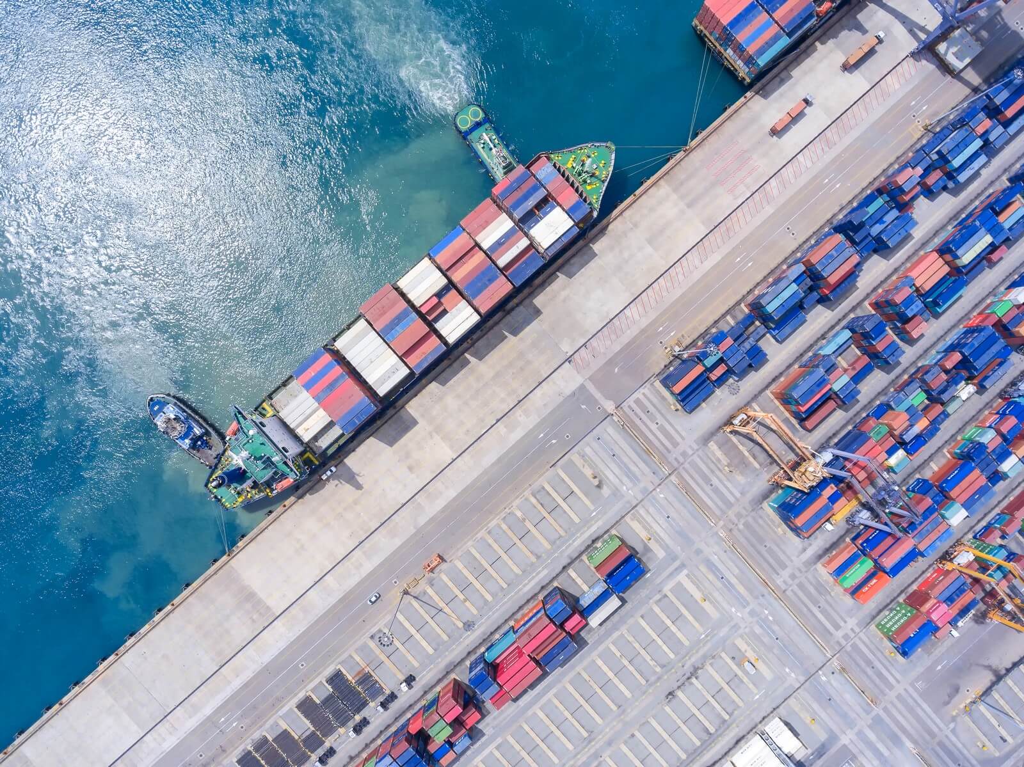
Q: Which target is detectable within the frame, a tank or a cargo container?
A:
cargo container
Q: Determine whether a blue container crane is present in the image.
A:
Yes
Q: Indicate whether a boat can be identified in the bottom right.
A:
No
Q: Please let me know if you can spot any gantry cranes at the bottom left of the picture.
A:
No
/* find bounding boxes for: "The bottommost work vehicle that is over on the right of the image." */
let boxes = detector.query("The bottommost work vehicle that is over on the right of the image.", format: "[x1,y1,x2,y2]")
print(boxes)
[740,658,757,676]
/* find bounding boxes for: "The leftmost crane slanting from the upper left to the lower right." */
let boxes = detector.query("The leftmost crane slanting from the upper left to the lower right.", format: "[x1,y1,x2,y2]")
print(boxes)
[720,398,830,496]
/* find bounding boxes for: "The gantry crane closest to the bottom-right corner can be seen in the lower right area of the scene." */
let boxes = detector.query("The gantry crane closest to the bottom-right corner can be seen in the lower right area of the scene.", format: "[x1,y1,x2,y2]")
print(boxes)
[939,534,1024,630]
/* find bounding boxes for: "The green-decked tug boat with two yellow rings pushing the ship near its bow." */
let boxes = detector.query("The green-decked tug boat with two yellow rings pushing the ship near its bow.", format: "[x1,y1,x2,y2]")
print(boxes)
[453,102,520,183]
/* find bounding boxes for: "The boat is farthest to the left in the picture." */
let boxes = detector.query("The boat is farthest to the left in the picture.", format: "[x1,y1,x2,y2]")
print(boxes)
[145,391,227,468]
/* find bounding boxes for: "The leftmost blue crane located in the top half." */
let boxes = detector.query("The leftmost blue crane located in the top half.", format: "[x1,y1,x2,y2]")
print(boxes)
[906,0,992,60]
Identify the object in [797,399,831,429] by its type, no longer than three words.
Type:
shipping container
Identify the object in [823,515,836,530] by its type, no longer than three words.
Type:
vehicle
